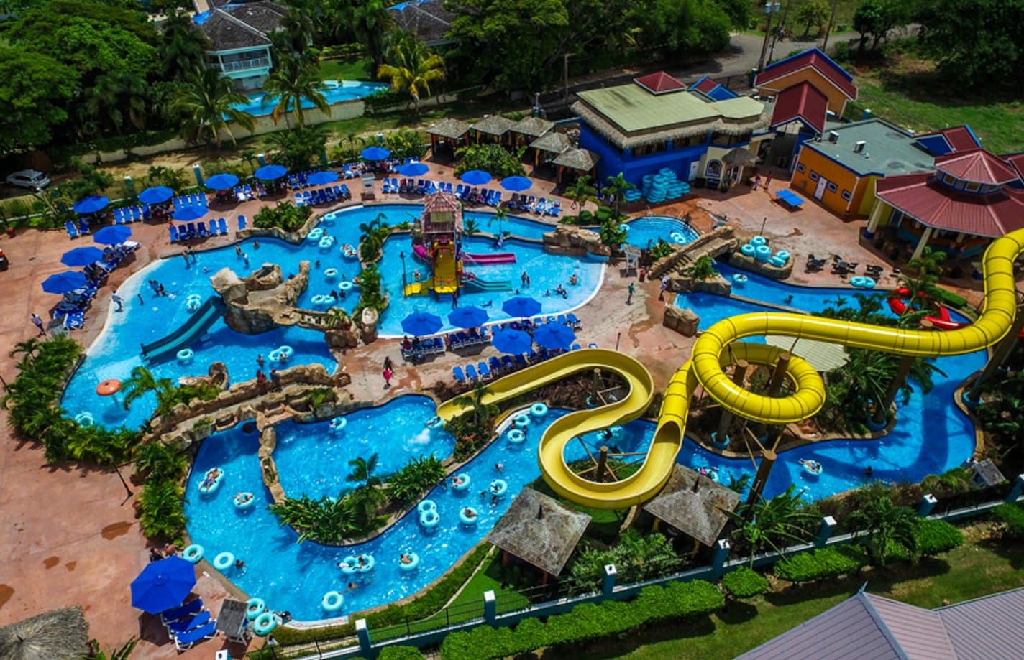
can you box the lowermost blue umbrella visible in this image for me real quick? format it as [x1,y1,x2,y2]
[127,563,197,622]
